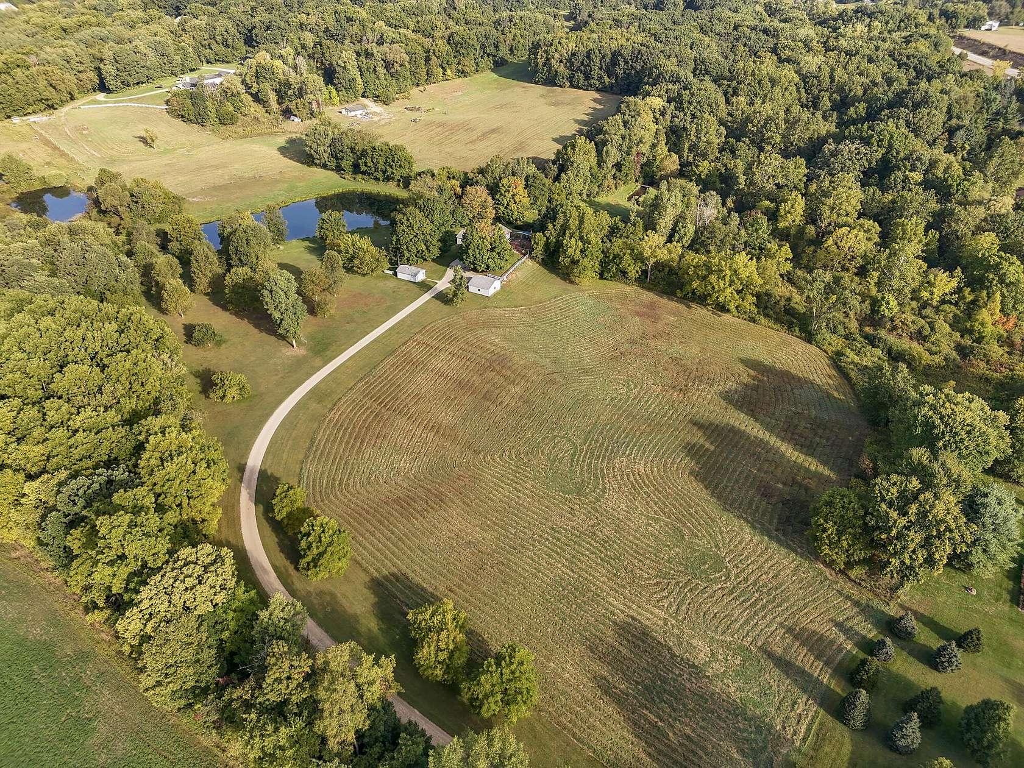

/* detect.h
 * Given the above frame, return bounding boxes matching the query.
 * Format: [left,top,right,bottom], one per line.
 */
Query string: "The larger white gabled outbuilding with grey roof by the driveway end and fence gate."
[467,275,502,296]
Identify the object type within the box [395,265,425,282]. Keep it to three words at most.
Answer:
shed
